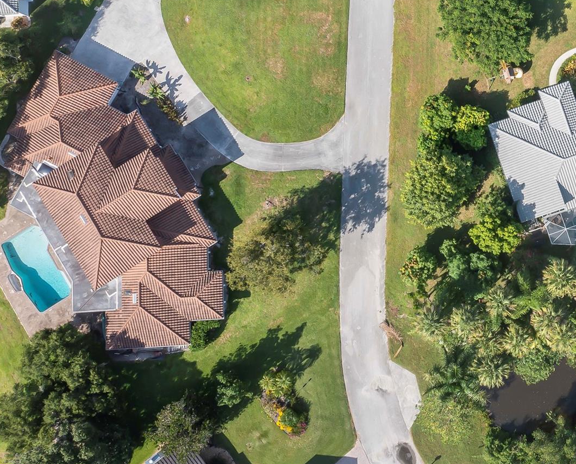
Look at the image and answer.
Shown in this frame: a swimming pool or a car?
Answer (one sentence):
The image shows a swimming pool.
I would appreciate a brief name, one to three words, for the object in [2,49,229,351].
house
